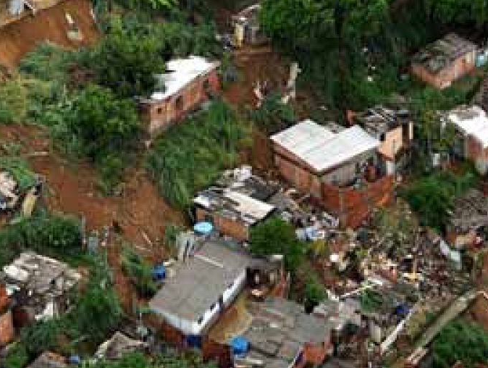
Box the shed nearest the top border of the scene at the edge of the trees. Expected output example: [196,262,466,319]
[224,7,268,49]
